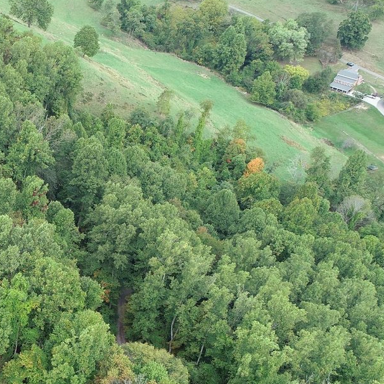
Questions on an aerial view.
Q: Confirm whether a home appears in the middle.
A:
No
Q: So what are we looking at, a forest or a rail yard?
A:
forest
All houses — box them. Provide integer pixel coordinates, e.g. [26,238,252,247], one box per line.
[328,67,367,98]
